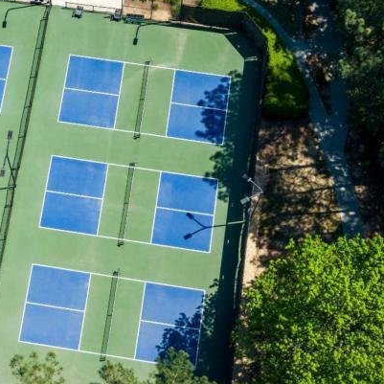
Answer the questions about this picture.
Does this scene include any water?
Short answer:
No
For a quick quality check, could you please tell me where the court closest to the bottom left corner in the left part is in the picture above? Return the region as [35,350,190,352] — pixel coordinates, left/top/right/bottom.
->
[19,264,204,368]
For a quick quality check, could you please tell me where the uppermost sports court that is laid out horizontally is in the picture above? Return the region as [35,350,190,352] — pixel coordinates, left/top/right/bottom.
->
[60,55,231,145]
